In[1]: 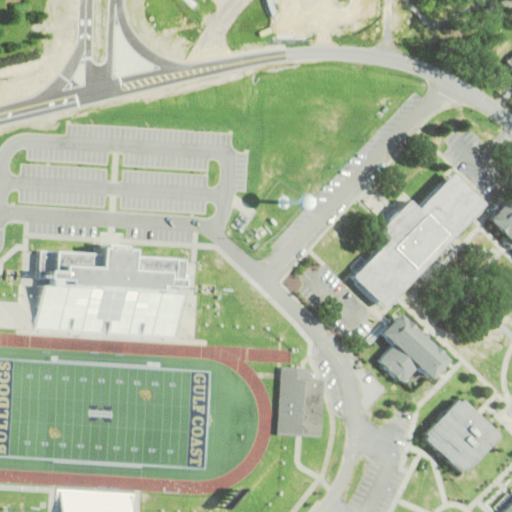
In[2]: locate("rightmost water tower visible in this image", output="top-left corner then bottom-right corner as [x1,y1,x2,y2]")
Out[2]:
[277,193,318,210]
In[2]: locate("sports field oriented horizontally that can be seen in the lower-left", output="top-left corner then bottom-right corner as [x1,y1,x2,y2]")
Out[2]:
[0,347,256,480]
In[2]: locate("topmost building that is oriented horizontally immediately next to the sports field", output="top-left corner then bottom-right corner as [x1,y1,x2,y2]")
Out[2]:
[35,245,192,292]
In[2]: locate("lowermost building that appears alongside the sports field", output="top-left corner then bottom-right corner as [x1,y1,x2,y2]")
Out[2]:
[275,368,324,438]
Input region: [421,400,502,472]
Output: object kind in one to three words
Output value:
building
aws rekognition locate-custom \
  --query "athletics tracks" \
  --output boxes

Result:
[0,332,292,494]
